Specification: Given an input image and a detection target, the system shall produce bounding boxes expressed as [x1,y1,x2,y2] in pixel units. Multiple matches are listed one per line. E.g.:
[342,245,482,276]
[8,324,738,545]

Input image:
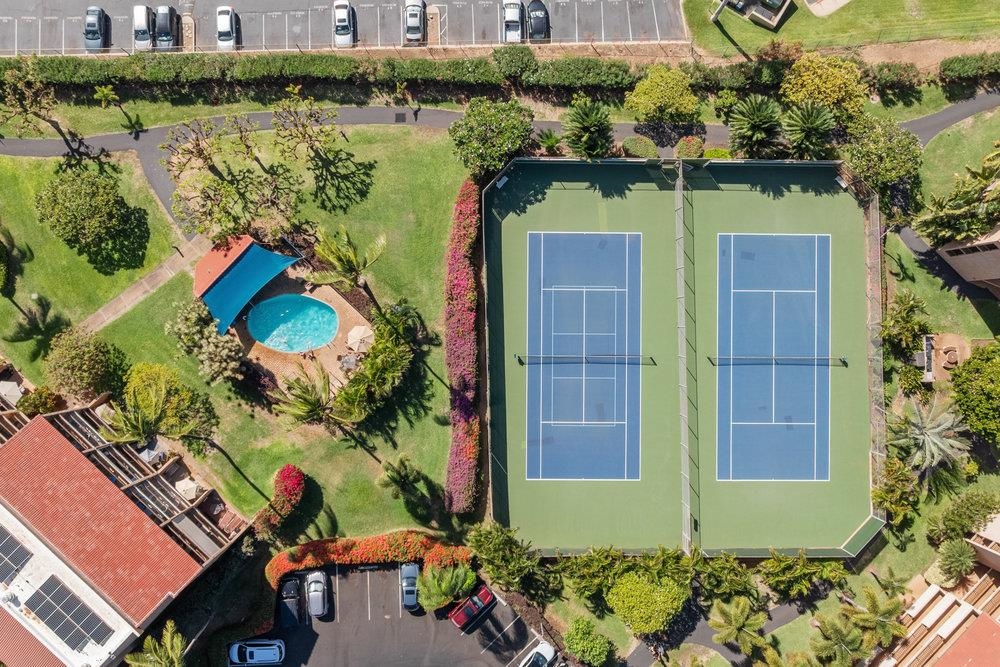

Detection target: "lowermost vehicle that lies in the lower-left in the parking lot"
[231,640,285,666]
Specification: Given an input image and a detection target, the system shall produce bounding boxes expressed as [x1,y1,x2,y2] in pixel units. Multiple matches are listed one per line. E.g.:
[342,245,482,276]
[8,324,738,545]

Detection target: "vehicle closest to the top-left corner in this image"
[82,4,108,55]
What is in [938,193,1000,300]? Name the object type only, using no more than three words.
building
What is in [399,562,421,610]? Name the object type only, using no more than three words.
car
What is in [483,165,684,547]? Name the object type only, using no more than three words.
tennis court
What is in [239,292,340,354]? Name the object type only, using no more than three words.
swimming pool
